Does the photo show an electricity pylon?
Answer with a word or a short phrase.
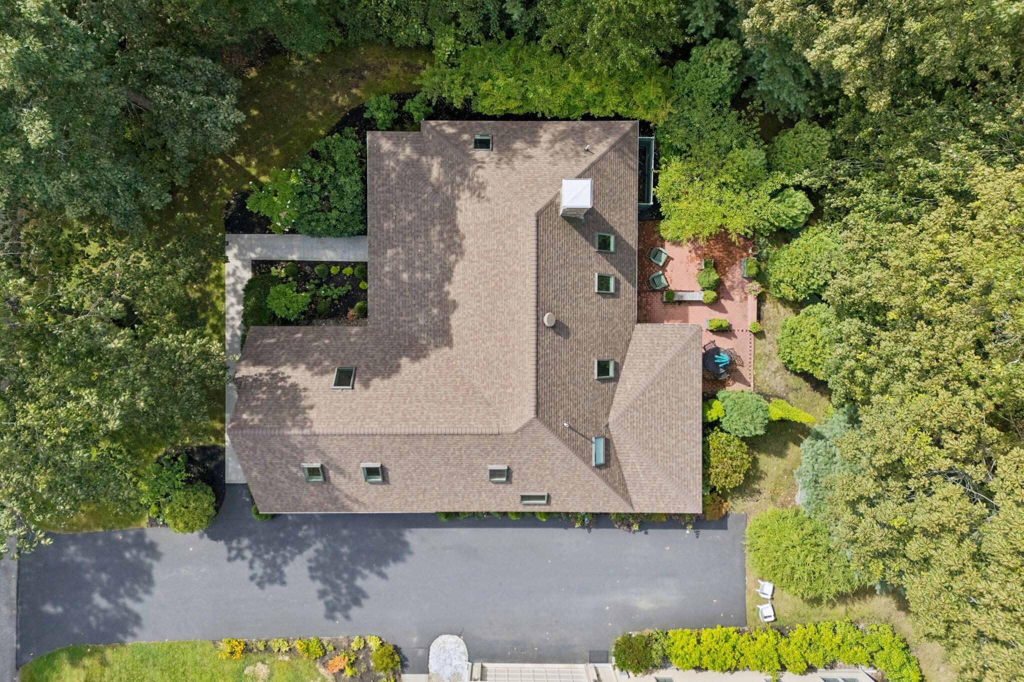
No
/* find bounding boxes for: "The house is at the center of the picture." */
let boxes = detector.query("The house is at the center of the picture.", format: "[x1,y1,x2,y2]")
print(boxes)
[228,119,704,515]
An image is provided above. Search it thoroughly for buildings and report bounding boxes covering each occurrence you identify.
[452,655,877,682]
[228,119,704,515]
